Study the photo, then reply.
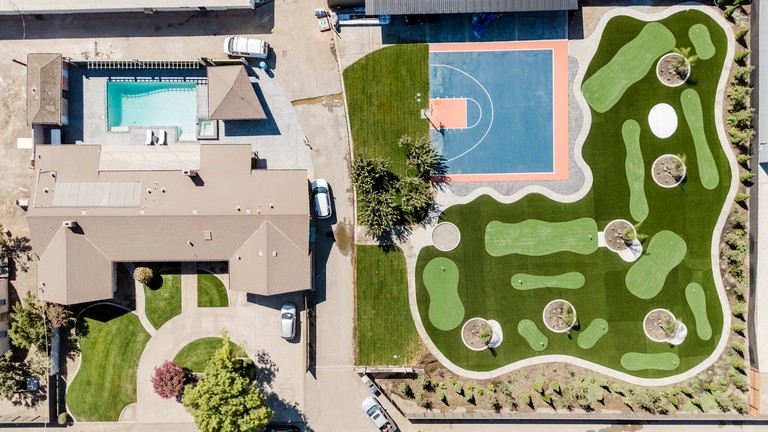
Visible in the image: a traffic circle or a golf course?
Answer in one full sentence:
Of the two, only a golf course appears.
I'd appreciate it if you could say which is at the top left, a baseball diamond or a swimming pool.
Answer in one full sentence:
The feature located at the top left is a swimming pool.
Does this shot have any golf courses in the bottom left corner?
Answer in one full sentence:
No, I see no golf course in the bottom left corner.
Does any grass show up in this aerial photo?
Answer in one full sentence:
Yes, grass can be seen from above here.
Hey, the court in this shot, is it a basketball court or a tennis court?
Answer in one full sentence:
What you see as the court is a basketball court.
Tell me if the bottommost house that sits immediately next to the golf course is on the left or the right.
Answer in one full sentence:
The bottommost house that sits immediately next to the golf course is on the left side of the image.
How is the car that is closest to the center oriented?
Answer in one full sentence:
In this picture, the car that is closest to the center is oriented up and down.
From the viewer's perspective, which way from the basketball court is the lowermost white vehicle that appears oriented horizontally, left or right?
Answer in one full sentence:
The basketball court has the lowermost white vehicle that appears oriented horizontally on its left side.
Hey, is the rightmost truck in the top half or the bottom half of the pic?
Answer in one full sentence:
The bottom half of the photo is where the rightmost truck is.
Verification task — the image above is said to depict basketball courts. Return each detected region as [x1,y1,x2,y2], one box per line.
[429,40,568,182]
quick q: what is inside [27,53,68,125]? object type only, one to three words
building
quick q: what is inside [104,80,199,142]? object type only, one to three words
swimming pool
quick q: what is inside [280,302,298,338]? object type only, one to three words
car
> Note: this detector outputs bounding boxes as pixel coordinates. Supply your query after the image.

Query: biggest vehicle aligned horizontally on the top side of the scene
[224,36,272,60]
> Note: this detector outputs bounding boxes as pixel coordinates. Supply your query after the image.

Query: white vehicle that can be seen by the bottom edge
[364,393,405,432]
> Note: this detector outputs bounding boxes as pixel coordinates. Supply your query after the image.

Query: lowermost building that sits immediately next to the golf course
[28,144,313,304]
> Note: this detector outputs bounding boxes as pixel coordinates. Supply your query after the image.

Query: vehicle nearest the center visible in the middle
[311,178,332,219]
